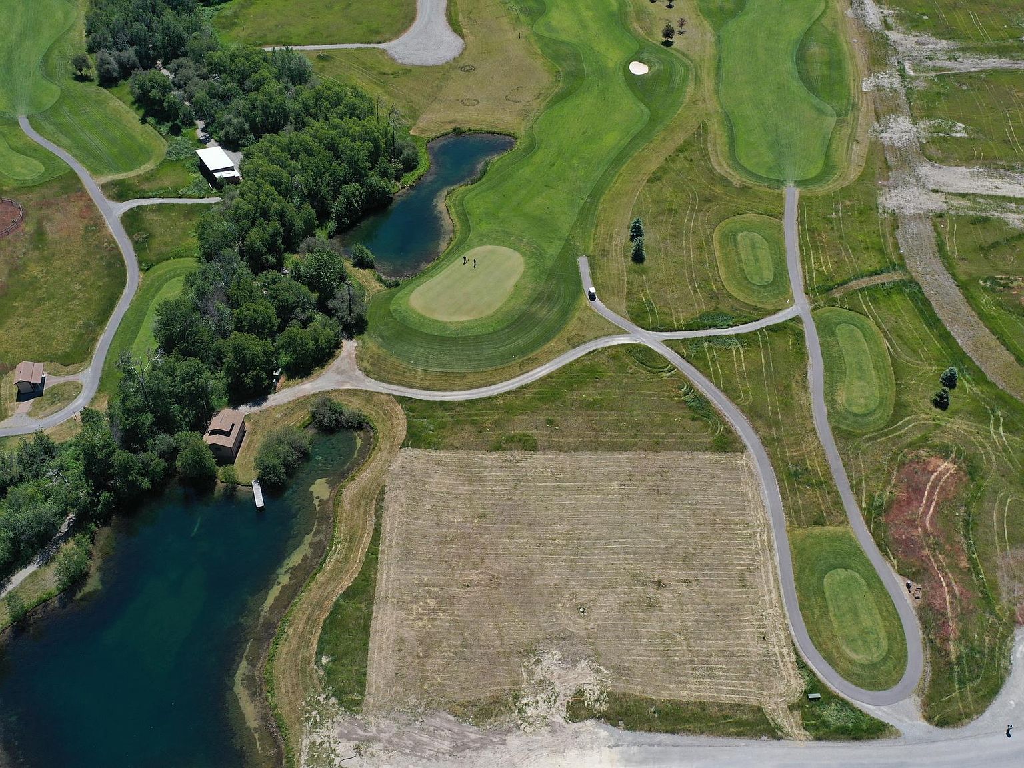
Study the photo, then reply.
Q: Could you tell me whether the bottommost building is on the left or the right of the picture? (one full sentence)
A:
It is on the left.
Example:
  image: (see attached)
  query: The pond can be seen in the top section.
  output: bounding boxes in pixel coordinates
[334,137,514,278]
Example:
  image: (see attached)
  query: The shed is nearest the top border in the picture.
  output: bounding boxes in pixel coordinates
[197,145,240,186]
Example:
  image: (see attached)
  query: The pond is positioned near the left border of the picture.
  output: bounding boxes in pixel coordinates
[0,429,375,768]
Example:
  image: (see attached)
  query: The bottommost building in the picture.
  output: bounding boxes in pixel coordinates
[203,412,254,459]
